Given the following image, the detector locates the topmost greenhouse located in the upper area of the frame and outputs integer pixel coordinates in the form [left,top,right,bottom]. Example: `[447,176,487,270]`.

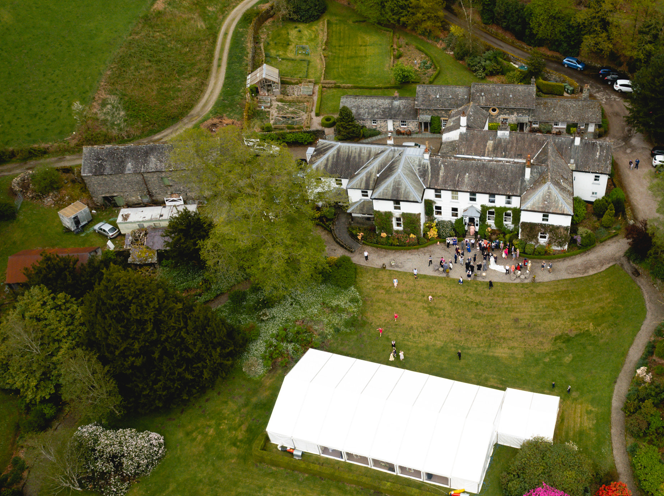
[250,62,281,97]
